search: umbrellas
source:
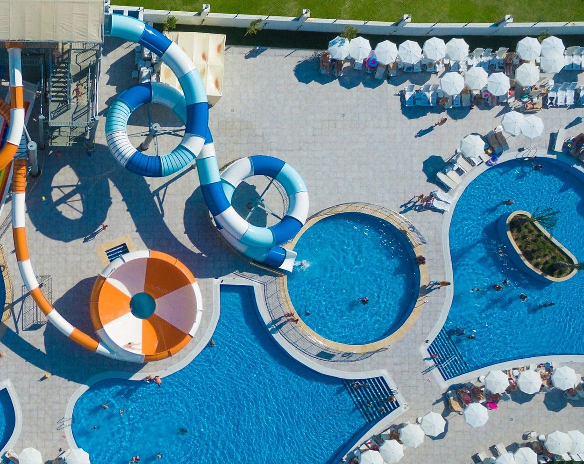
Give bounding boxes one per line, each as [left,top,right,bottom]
[549,366,575,392]
[454,133,484,159]
[418,410,444,435]
[509,64,538,89]
[509,445,536,464]
[325,36,350,61]
[444,39,467,62]
[460,402,488,428]
[463,67,487,92]
[377,439,402,463]
[481,71,510,97]
[494,112,522,137]
[347,37,371,61]
[398,423,423,448]
[537,429,568,455]
[565,428,584,453]
[515,116,544,141]
[535,56,563,76]
[19,446,43,464]
[419,36,445,62]
[67,448,91,464]
[514,368,542,394]
[396,41,422,67]
[516,37,540,62]
[478,368,508,394]
[488,450,515,464]
[373,40,397,65]
[437,72,464,98]
[536,37,563,58]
